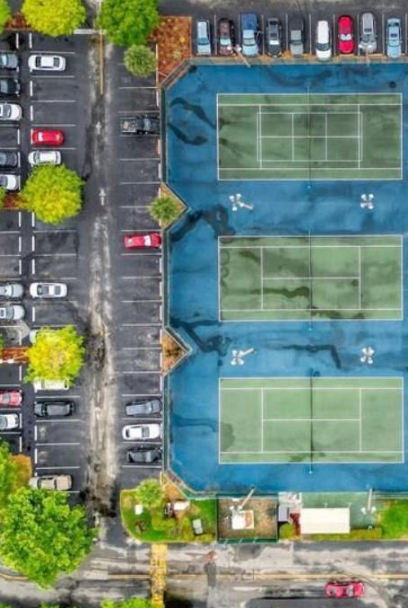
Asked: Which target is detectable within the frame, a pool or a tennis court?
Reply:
tennis court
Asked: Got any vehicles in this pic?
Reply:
Yes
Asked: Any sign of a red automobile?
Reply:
Yes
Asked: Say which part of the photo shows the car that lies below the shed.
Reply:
bottom right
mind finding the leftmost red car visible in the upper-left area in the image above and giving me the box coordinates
[32,131,65,145]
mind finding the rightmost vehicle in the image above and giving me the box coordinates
[386,19,401,58]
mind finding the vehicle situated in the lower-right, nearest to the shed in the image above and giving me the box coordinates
[326,579,364,599]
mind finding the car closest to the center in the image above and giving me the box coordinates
[124,232,160,249]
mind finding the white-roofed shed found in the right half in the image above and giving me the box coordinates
[300,504,349,534]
